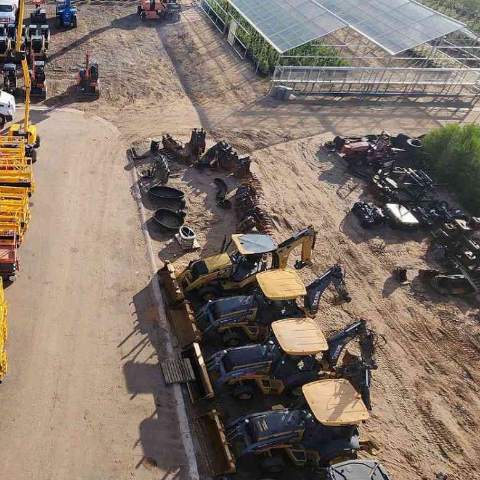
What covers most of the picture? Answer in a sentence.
The bulk of the photo consists of paved ground.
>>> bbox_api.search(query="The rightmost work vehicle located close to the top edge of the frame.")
[162,0,181,21]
